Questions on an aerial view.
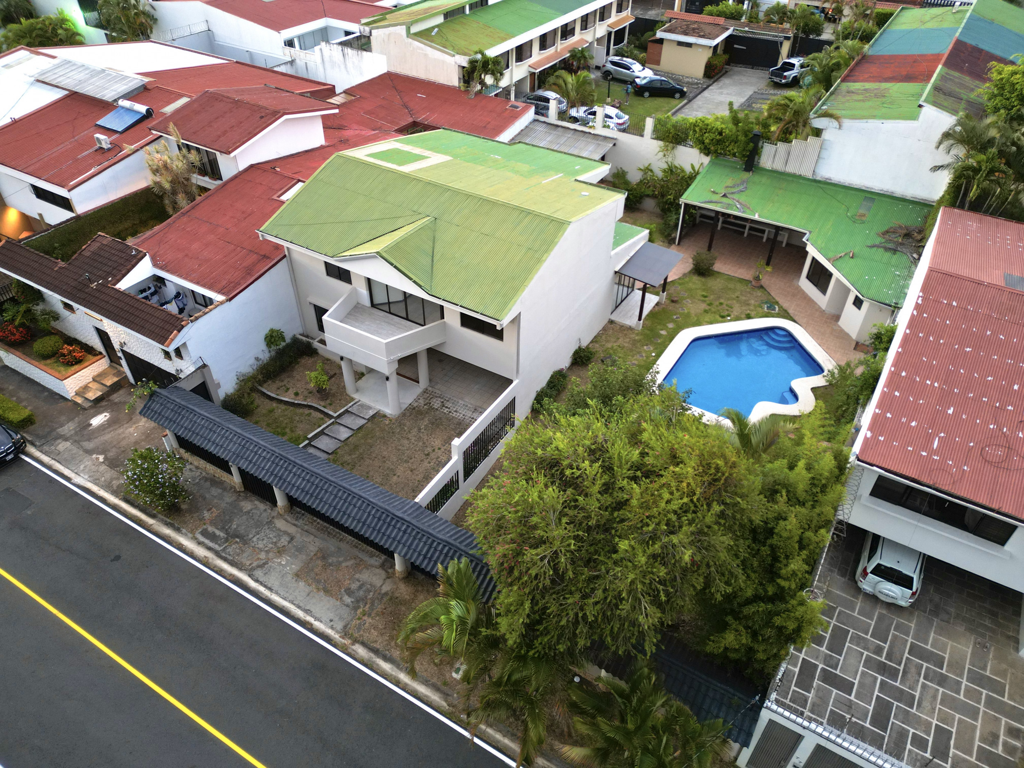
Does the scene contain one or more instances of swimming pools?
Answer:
Yes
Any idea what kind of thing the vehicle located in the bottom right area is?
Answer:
car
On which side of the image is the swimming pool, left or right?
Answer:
right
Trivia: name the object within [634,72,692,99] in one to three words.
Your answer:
car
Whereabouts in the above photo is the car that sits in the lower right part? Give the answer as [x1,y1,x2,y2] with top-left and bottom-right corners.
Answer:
[861,534,935,614]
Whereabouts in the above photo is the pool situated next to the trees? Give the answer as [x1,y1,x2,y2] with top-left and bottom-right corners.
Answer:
[646,317,839,429]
